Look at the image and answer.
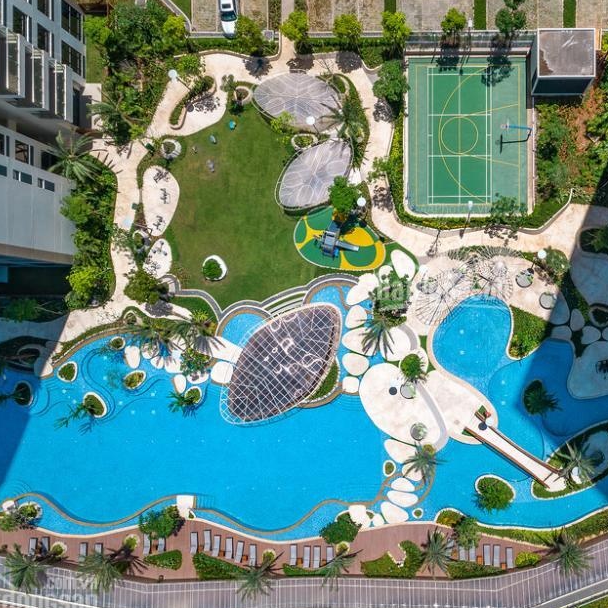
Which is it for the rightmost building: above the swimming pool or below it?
above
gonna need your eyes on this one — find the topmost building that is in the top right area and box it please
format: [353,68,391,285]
[533,28,596,100]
